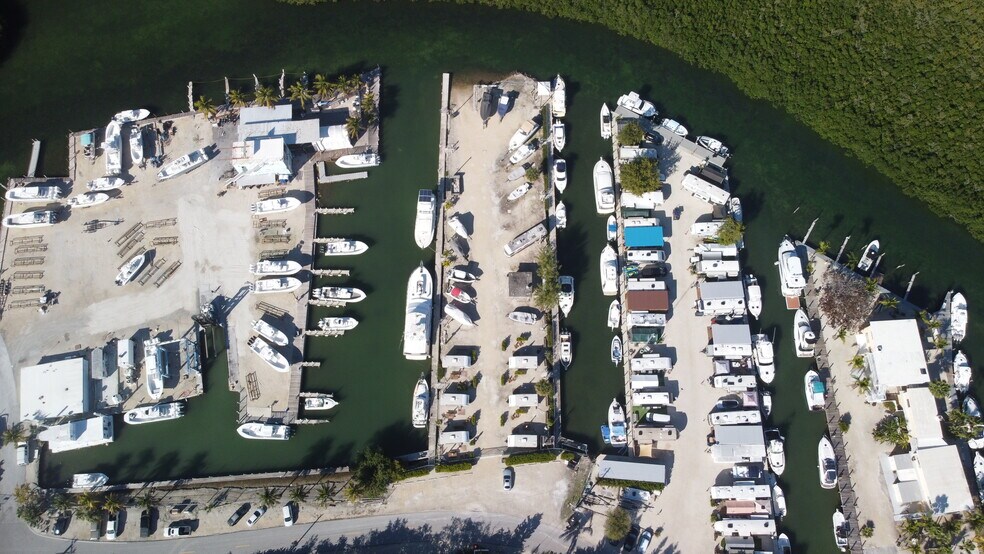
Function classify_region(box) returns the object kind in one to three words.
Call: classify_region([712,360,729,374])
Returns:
gazebo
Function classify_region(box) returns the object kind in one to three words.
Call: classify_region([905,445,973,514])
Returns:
house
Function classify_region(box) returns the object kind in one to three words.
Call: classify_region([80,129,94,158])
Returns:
boat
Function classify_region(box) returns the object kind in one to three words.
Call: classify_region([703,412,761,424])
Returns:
vehicle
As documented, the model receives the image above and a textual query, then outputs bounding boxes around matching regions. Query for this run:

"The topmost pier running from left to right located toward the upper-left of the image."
[67,111,195,136]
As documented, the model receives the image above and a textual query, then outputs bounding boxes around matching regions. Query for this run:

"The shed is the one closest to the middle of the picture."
[509,272,532,299]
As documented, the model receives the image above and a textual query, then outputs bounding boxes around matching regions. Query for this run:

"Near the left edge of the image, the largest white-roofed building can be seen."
[19,357,93,421]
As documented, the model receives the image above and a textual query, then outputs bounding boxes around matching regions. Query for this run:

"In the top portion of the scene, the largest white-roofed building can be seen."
[221,104,323,192]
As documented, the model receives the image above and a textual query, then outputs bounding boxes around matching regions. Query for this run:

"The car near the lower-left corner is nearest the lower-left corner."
[54,515,69,535]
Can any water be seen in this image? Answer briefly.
Yes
